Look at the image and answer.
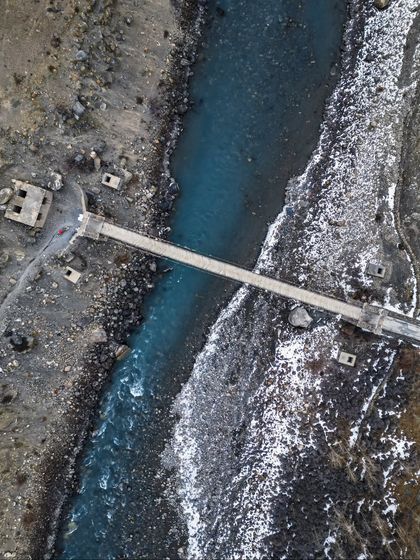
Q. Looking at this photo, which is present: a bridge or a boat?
bridge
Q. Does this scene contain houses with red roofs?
No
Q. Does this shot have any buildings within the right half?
No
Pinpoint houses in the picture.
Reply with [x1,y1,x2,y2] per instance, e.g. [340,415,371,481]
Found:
[4,182,51,228]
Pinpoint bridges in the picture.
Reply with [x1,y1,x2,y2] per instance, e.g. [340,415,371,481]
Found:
[75,208,389,333]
